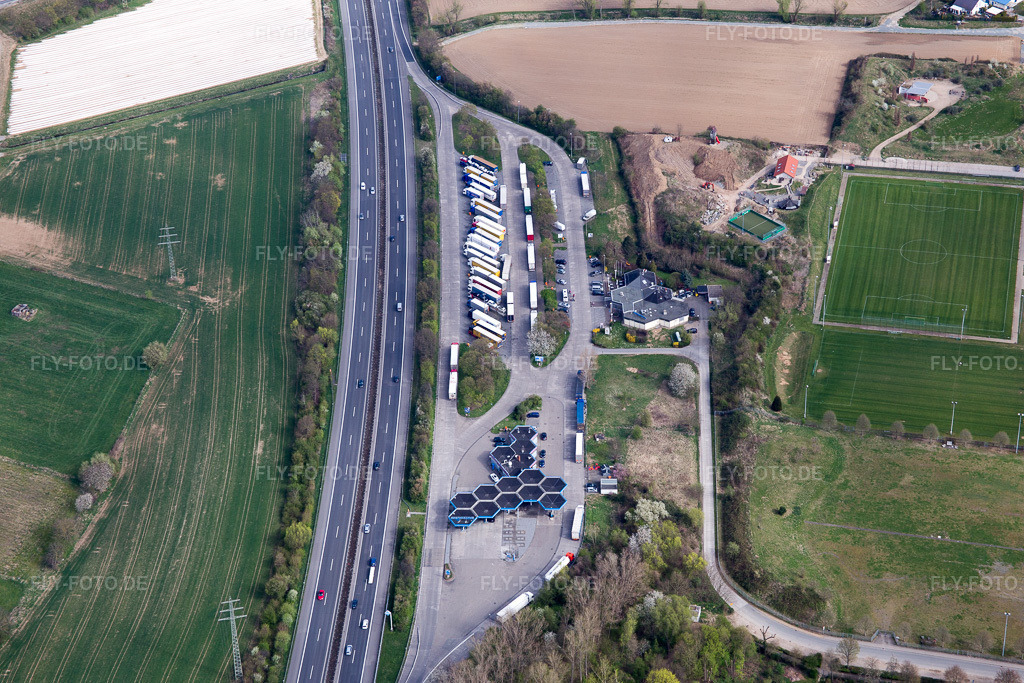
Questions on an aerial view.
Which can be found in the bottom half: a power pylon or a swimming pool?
power pylon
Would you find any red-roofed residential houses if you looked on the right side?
Yes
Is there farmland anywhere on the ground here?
Yes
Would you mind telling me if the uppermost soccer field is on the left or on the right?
right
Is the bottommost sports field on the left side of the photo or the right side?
right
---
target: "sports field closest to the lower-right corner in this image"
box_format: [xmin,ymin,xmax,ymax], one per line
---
[804,328,1024,445]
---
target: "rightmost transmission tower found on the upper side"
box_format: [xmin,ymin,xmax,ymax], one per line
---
[156,217,183,282]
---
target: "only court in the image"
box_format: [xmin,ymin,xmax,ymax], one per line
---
[726,206,789,242]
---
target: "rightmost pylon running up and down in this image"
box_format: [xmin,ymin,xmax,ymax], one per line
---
[215,603,249,683]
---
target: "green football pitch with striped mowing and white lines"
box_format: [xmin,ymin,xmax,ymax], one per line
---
[812,176,1024,339]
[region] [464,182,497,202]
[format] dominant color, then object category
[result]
white vehicle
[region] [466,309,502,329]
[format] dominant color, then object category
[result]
white vehicle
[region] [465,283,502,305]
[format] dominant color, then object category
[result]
white truck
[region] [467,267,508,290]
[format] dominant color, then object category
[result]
white truck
